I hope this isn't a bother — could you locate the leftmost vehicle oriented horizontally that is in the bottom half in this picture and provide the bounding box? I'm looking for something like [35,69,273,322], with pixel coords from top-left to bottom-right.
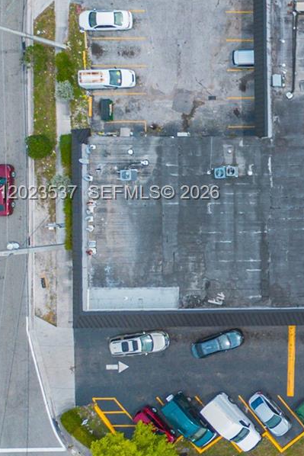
[107,328,173,357]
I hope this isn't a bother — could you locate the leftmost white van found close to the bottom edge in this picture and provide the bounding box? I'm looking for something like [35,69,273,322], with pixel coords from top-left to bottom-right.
[197,393,261,452]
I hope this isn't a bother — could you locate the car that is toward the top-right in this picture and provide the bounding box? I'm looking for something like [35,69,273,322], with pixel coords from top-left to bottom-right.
[230,48,255,69]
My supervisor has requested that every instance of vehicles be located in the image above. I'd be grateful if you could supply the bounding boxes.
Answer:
[246,389,296,438]
[0,165,18,215]
[197,393,261,452]
[130,401,182,450]
[107,328,173,357]
[156,392,218,450]
[80,7,136,32]
[230,48,255,69]
[289,395,304,424]
[190,327,247,361]
[75,66,138,91]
